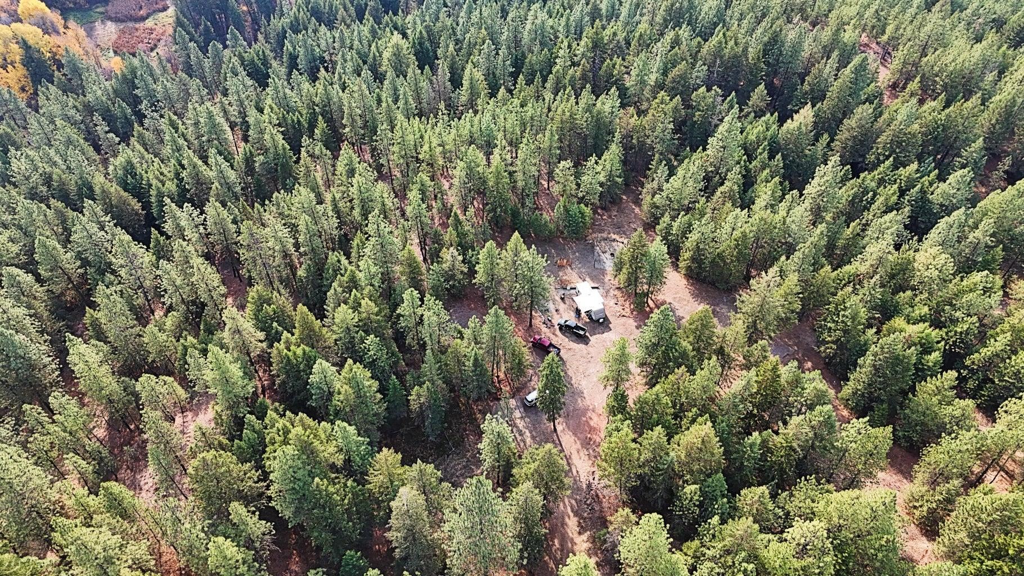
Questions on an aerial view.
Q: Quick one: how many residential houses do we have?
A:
none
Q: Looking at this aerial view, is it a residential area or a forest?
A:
forest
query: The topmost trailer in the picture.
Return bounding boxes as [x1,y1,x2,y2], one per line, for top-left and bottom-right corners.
[571,282,603,323]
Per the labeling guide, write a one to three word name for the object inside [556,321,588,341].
vehicle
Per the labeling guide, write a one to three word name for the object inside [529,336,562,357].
truck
